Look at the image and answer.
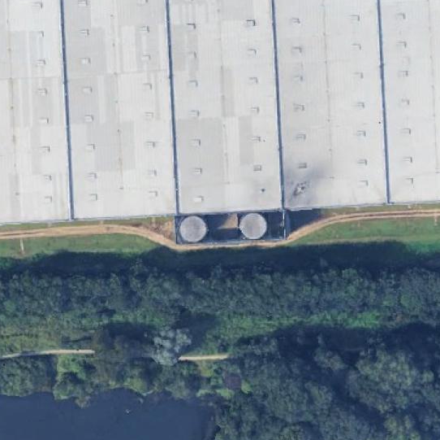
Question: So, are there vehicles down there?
No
